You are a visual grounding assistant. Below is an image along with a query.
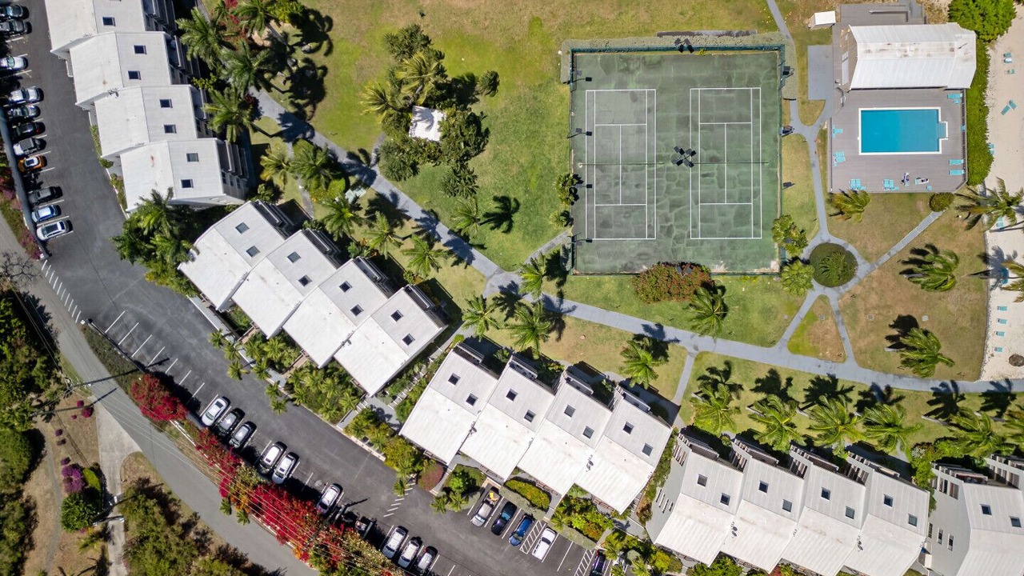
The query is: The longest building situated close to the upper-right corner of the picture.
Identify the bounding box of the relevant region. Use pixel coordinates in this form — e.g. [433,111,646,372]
[837,27,977,94]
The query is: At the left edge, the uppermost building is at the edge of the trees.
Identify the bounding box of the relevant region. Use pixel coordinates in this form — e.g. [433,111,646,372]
[38,0,174,60]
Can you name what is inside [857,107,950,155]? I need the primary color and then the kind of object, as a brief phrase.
blue swimming pool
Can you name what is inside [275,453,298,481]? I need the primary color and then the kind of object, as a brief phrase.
white car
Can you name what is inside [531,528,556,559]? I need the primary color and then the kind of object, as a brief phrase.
white car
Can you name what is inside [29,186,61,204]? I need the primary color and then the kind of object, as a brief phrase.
gray car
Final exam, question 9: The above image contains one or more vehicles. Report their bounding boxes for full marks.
[384,526,407,557]
[230,419,256,448]
[10,87,43,104]
[415,546,438,576]
[472,491,500,525]
[29,186,61,204]
[588,550,611,576]
[531,528,556,559]
[216,409,243,438]
[39,221,72,239]
[493,503,516,532]
[13,120,45,137]
[511,517,532,543]
[203,397,229,424]
[317,484,342,514]
[261,442,285,472]
[19,156,47,171]
[0,55,27,71]
[0,17,28,35]
[13,138,44,156]
[275,453,298,481]
[397,537,421,567]
[33,205,61,222]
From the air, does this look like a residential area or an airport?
residential area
